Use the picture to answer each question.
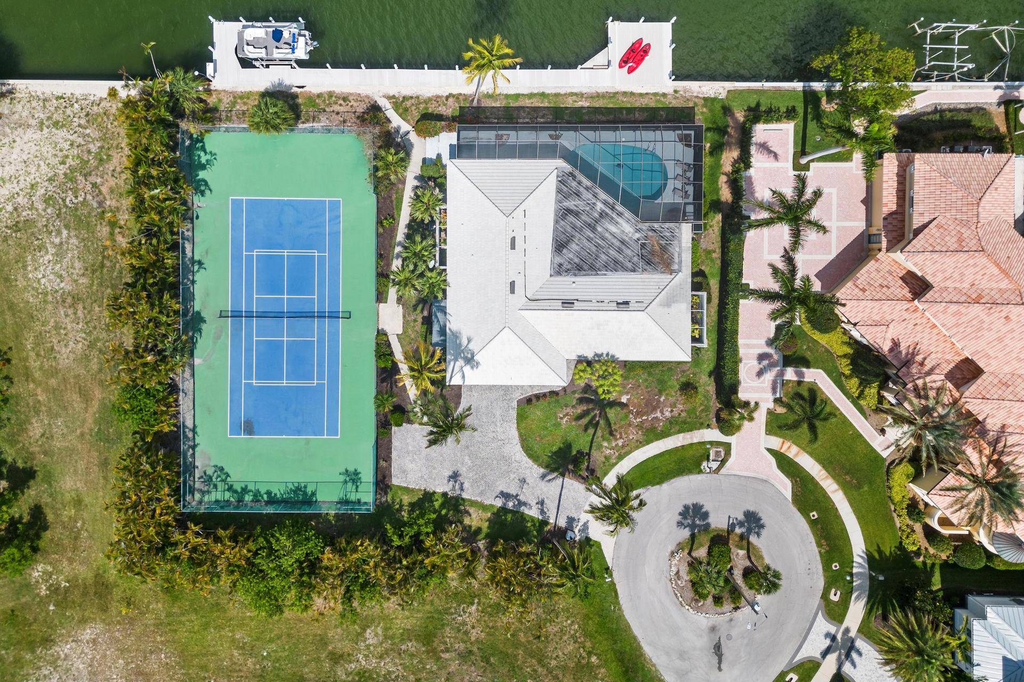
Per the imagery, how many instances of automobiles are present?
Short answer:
0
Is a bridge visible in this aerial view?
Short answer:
No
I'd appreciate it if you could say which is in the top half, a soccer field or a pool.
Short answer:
pool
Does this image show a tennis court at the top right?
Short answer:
No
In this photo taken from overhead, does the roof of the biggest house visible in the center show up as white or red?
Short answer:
white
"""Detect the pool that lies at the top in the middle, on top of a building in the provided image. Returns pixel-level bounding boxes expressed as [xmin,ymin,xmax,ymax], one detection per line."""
[460,135,694,222]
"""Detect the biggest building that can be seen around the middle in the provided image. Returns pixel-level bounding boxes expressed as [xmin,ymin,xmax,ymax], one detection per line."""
[446,159,692,385]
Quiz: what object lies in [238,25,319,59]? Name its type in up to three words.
boat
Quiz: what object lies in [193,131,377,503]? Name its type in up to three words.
tennis court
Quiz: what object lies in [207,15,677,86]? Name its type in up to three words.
pier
